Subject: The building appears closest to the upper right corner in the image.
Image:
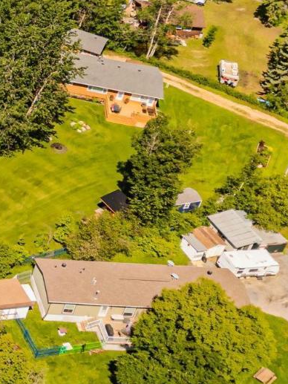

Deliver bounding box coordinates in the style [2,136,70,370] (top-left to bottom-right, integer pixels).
[156,2,206,46]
